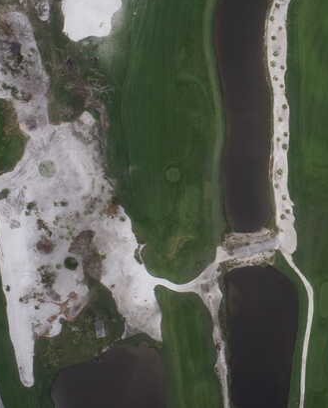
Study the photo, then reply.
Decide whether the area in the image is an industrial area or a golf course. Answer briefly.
golf course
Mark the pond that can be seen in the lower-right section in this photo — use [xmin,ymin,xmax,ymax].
[226,267,299,408]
